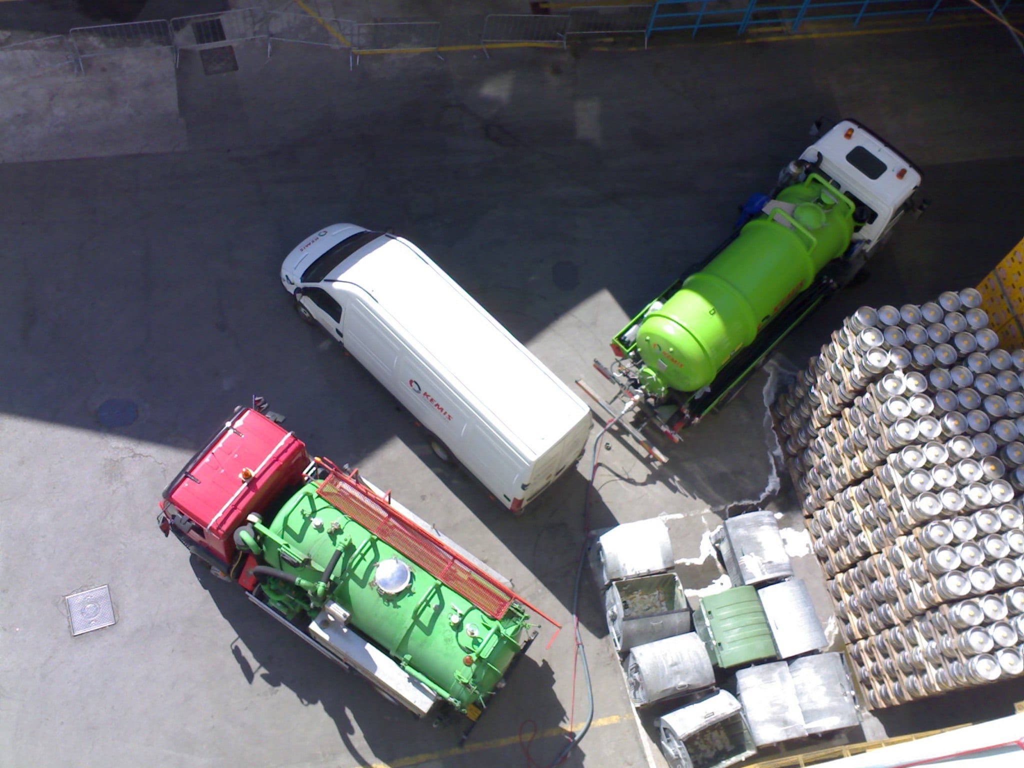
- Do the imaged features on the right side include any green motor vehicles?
Yes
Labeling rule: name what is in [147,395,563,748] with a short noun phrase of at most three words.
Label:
truck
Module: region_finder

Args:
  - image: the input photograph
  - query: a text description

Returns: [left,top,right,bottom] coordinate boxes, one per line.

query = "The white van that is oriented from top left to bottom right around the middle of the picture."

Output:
[283,221,595,507]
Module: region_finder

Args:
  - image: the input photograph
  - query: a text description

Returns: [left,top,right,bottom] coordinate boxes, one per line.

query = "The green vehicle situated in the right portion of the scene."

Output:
[572,116,928,465]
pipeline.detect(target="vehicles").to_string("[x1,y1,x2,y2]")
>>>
[147,395,563,748]
[283,221,595,507]
[572,116,928,465]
